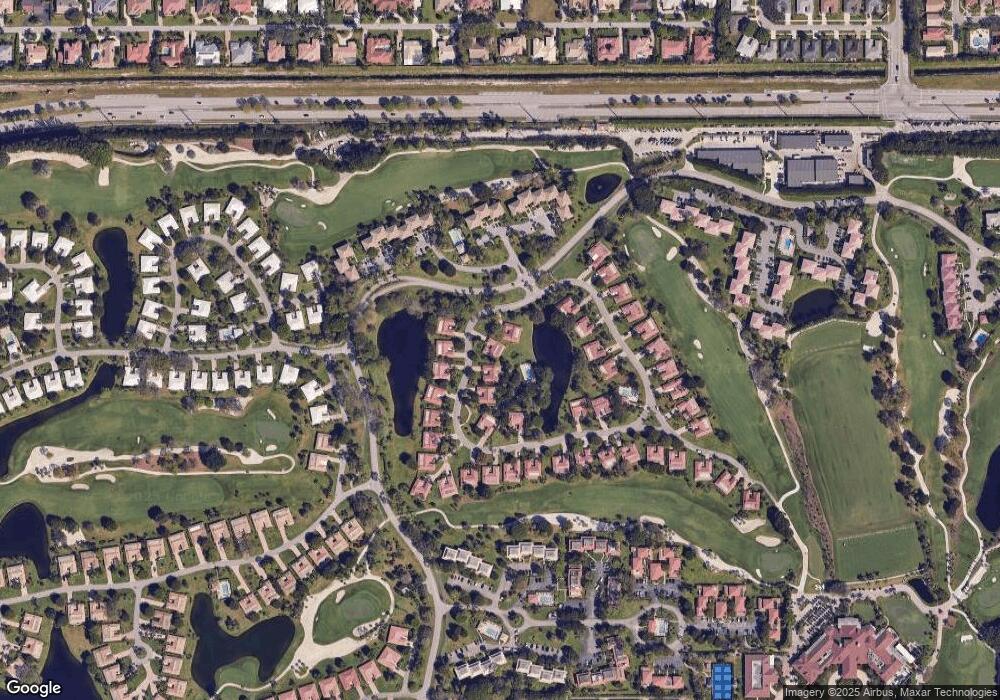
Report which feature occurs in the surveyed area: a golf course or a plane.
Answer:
golf course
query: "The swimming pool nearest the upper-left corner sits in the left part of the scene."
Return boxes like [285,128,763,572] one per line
[4,330,22,356]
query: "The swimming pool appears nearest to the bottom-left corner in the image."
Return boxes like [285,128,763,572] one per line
[218,579,231,598]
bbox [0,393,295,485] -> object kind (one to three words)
golf course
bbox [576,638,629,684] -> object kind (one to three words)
building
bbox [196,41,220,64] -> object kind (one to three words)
house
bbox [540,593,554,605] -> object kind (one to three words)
swimming pool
